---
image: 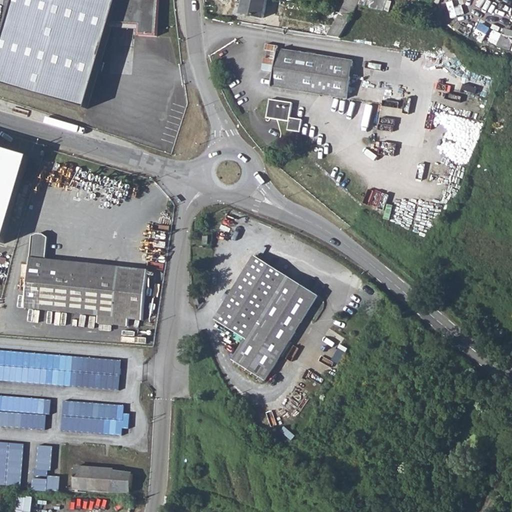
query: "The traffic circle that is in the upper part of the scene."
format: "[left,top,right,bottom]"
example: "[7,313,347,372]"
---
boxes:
[212,156,246,190]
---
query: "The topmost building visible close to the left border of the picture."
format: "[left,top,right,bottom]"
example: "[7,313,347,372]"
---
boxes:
[0,0,119,110]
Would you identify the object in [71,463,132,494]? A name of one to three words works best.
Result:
barn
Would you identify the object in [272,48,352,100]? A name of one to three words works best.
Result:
building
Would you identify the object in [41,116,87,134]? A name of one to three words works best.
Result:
vehicle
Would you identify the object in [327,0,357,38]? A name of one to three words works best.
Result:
shed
